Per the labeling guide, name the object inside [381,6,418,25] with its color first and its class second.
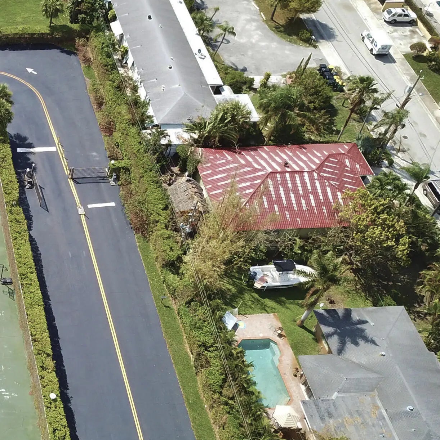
white car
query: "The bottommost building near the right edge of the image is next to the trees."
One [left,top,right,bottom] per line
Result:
[293,306,440,440]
